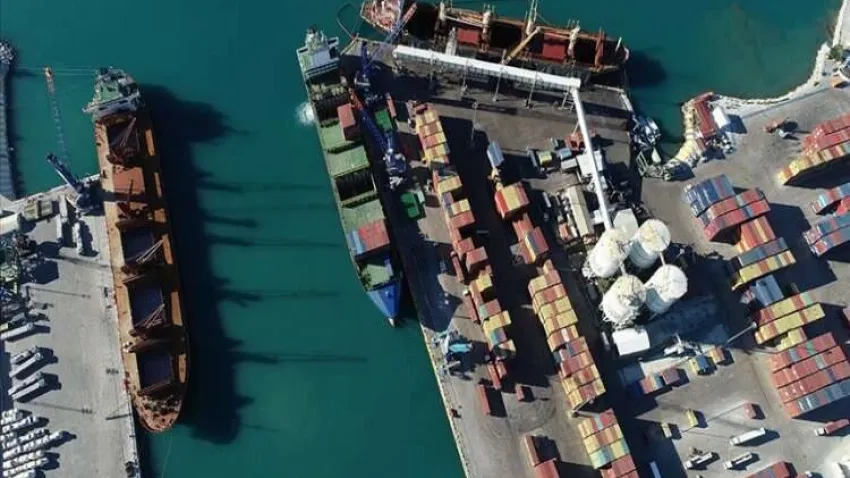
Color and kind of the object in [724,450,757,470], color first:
white vehicle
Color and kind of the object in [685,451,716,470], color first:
white vehicle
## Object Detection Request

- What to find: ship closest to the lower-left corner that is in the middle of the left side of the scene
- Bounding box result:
[85,68,193,434]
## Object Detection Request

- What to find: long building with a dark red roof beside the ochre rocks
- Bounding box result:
[681,102,717,141]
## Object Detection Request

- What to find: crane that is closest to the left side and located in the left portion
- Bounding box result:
[45,69,102,222]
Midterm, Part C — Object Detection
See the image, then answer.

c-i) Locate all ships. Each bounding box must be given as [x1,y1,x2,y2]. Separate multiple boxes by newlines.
[299,27,404,327]
[353,0,633,79]
[85,68,193,434]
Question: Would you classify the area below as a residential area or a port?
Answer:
port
